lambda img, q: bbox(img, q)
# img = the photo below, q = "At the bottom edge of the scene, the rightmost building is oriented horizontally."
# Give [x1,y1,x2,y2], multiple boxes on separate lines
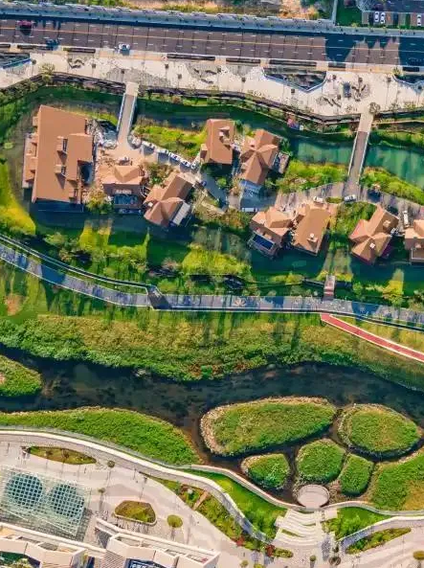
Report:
[95,515,225,568]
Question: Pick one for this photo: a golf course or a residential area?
residential area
